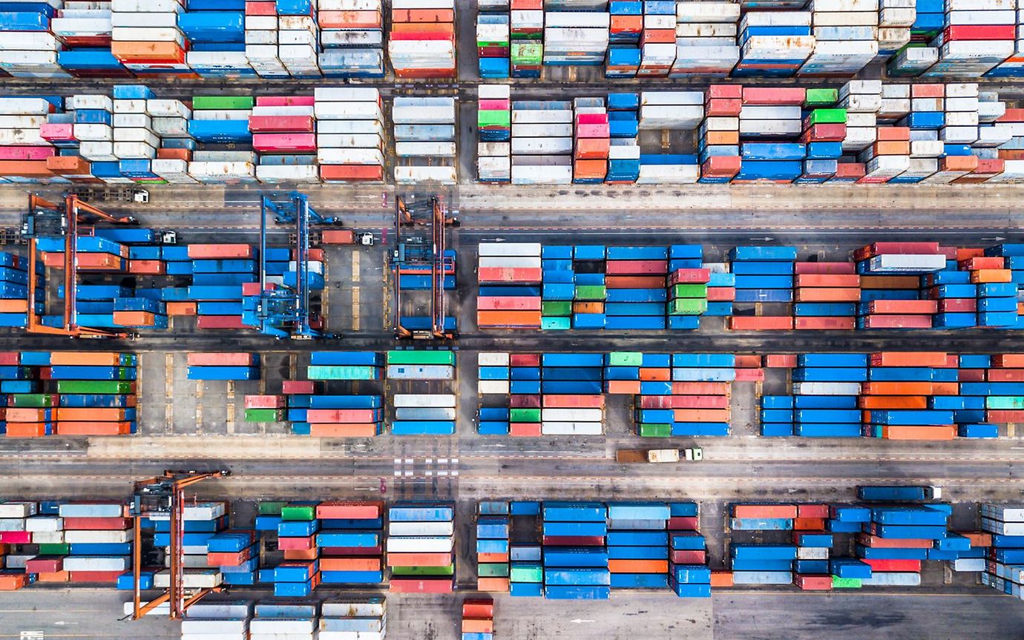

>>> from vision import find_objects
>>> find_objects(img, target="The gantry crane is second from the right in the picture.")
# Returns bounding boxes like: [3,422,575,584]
[250,187,342,343]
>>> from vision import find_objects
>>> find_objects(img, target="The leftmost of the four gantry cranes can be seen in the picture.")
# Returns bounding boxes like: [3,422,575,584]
[17,187,142,343]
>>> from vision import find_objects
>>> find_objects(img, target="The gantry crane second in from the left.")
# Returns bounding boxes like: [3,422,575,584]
[122,469,234,627]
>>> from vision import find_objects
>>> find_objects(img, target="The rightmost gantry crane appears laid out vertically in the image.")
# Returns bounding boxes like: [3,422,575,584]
[384,187,457,343]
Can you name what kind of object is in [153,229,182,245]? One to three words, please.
vehicle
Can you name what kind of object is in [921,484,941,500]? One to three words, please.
vehicle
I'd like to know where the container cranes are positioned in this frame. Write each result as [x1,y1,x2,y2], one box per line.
[122,469,234,627]
[384,187,457,343]
[250,187,342,343]
[17,187,142,343]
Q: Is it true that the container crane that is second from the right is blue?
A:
Yes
